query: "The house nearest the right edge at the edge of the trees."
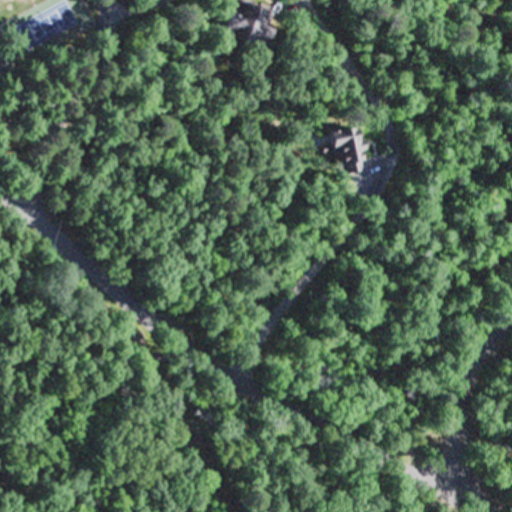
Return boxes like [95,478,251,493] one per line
[334,126,369,174]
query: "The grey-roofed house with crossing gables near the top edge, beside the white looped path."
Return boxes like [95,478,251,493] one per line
[250,1,278,40]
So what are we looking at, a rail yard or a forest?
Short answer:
forest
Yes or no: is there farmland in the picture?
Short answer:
No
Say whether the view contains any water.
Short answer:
No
